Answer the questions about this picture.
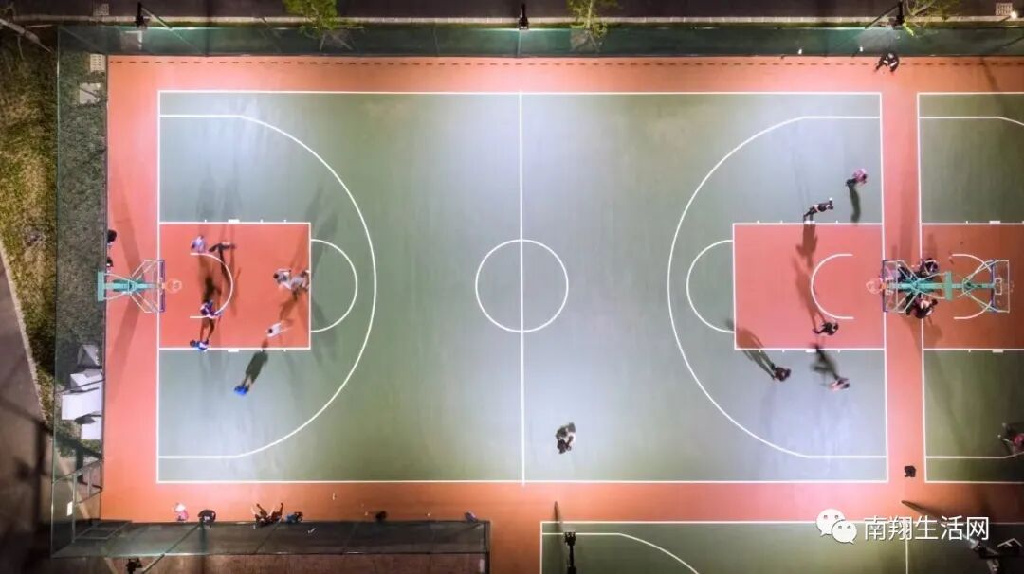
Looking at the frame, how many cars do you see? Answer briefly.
zero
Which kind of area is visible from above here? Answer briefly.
sports ground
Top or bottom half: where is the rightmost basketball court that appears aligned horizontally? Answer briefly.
bottom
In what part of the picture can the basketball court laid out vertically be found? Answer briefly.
right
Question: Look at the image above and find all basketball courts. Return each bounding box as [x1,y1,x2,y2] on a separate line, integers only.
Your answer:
[541,518,1024,574]
[919,93,1024,481]
[156,89,887,486]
